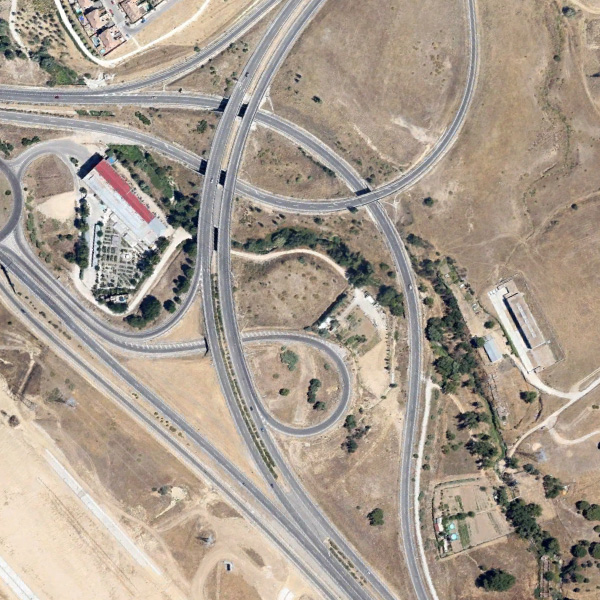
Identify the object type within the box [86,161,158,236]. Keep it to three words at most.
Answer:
building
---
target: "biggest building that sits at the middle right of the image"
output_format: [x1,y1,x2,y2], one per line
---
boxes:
[503,291,548,350]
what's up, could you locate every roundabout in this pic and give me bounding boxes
[0,156,24,242]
